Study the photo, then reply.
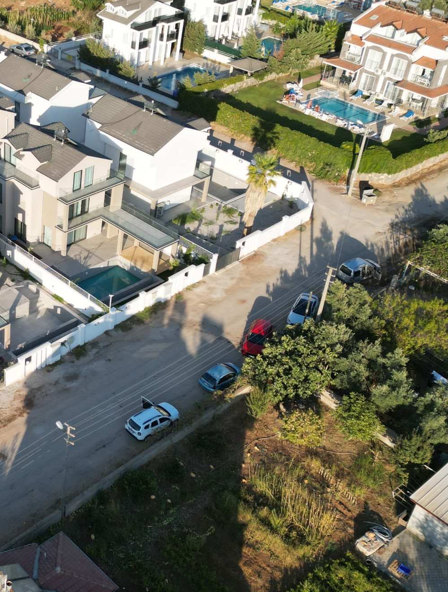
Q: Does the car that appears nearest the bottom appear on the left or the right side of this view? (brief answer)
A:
left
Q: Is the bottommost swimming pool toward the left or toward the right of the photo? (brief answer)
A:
left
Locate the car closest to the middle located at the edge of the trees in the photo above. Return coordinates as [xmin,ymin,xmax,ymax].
[244,318,273,355]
